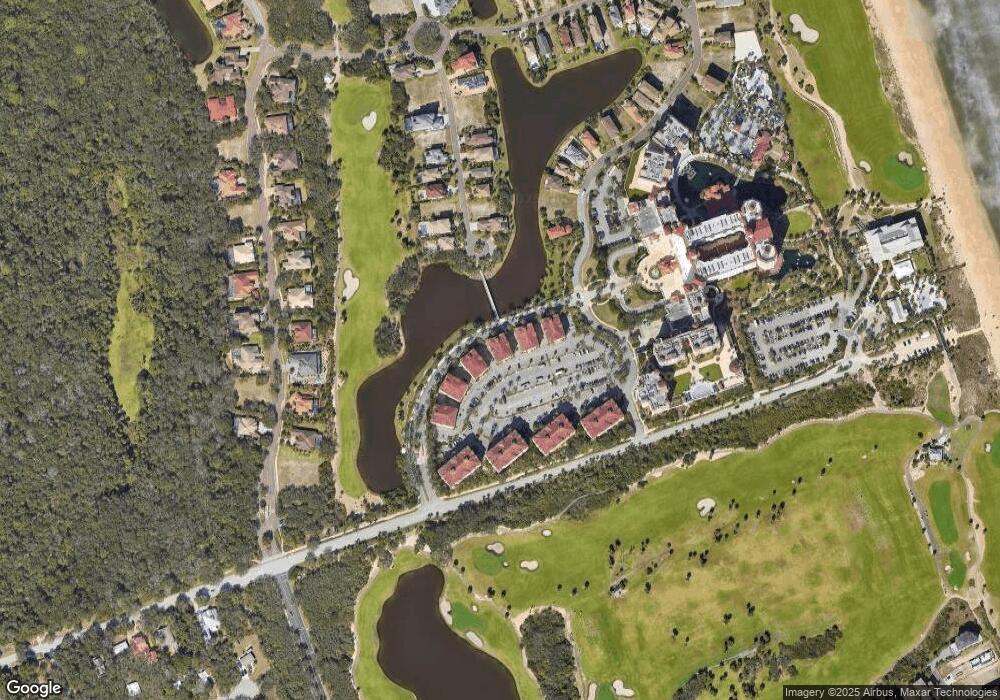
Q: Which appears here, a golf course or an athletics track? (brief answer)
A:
golf course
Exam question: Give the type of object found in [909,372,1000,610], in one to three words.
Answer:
golf course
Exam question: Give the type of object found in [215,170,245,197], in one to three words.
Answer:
house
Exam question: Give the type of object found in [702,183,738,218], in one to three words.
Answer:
building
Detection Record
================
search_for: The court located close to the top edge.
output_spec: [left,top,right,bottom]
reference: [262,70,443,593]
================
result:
[734,30,763,62]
